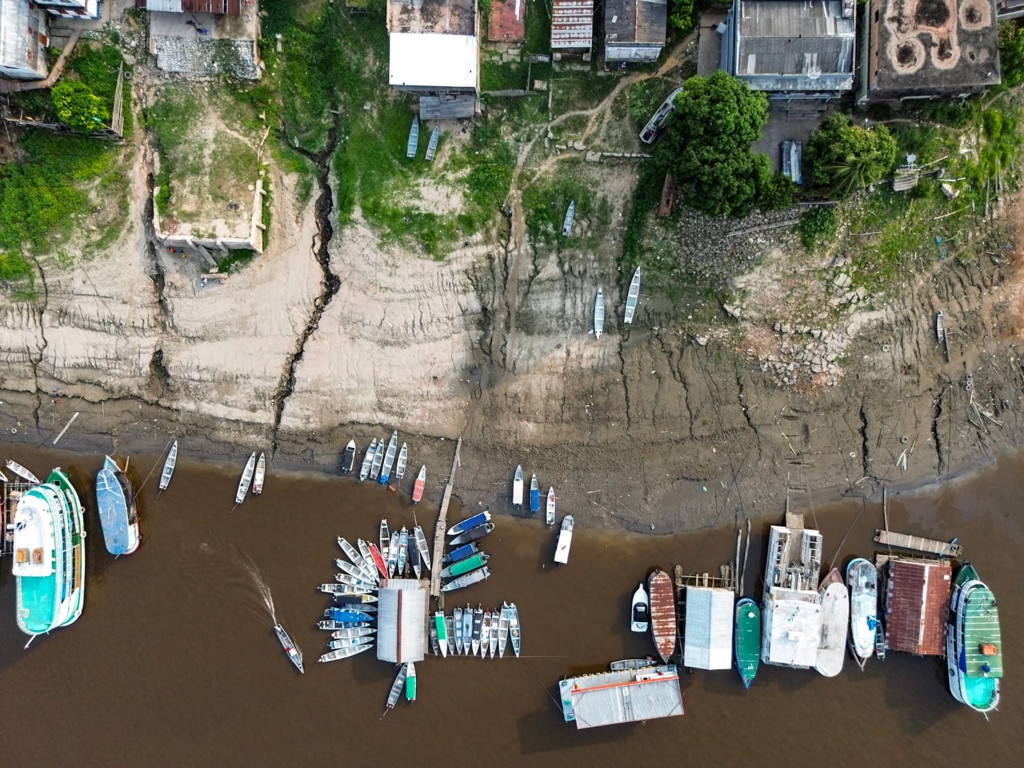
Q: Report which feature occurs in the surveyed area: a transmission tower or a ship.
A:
ship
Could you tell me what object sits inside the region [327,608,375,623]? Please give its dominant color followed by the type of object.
blue boat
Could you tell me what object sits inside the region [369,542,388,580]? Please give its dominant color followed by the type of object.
red boat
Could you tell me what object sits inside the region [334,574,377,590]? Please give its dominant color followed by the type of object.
white boat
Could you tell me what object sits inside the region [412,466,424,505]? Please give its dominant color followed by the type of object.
red boat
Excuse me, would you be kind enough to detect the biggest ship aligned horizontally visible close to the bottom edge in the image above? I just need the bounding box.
[558,663,685,730]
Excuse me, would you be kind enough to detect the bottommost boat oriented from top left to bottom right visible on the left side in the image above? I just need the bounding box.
[272,621,304,673]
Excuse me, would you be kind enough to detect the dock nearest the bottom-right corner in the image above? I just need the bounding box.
[873,529,961,558]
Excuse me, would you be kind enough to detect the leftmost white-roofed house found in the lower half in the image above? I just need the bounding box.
[376,579,425,662]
